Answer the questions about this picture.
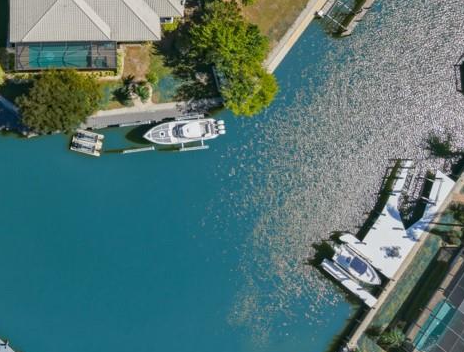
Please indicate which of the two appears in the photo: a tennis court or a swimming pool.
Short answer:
swimming pool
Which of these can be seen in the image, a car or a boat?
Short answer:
boat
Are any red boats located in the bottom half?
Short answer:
No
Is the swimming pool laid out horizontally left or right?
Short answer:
left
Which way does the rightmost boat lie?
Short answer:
diagonally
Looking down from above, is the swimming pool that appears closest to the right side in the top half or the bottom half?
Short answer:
bottom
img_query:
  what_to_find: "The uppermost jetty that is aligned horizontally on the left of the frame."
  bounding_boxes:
[81,101,225,131]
